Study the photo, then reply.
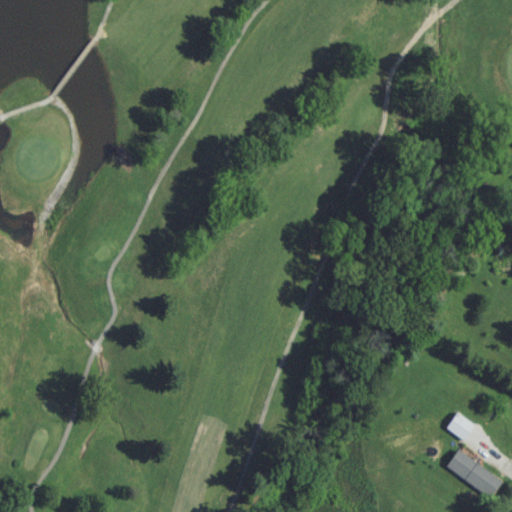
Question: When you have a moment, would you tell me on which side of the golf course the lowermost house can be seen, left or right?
to its right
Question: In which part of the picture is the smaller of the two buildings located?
bottom right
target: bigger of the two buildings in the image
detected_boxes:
[448,450,504,495]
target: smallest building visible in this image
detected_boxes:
[446,412,474,440]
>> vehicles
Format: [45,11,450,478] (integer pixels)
[490,450,501,459]
[480,442,490,449]
[480,450,490,458]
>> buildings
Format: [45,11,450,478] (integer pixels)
[448,450,504,495]
[446,412,474,440]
